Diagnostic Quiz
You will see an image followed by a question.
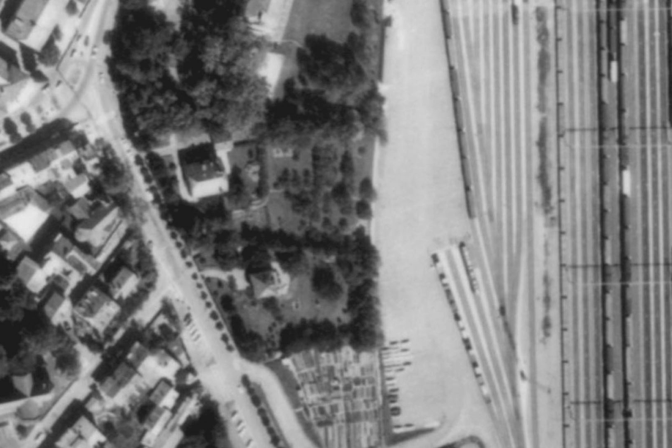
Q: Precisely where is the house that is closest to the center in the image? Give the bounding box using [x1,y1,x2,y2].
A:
[249,270,281,299]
